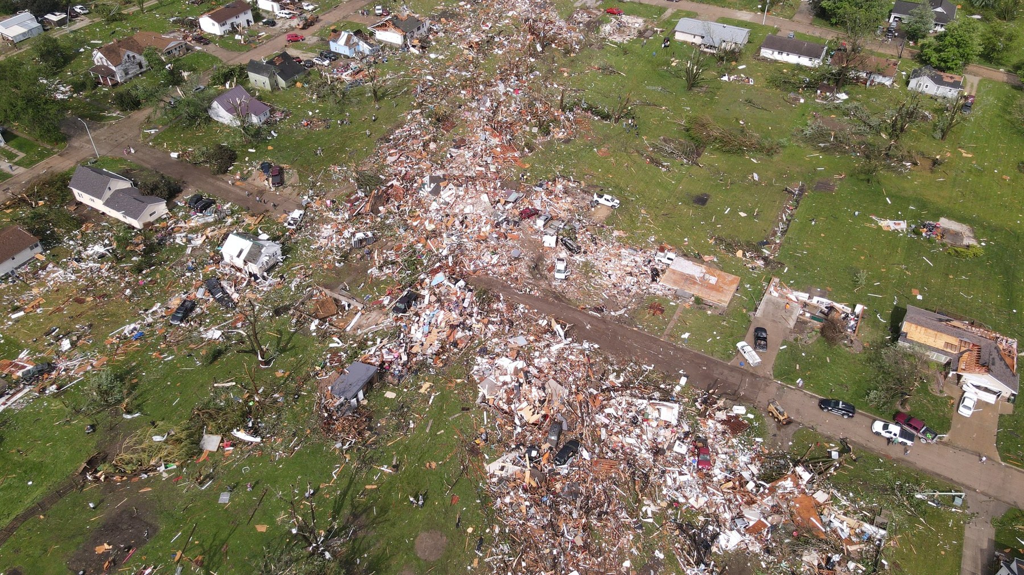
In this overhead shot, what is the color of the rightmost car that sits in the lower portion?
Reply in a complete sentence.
From above, the rightmost car that sits in the lower portion appears white.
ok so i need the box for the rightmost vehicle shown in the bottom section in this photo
[950,388,979,420]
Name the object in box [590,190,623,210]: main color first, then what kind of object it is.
white vehicle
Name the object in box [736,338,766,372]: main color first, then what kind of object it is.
white truck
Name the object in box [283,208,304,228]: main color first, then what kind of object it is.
white vehicle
